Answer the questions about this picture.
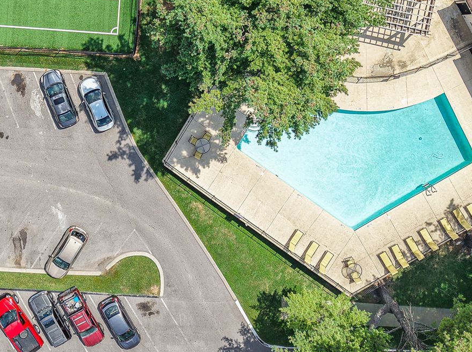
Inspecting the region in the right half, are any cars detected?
No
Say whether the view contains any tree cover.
Yes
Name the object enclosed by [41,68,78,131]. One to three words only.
car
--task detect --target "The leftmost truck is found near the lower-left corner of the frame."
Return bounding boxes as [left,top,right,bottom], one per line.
[0,292,44,352]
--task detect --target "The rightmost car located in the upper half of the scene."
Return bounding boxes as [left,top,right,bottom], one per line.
[80,75,114,135]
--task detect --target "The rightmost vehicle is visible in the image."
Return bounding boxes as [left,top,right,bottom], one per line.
[98,292,139,350]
